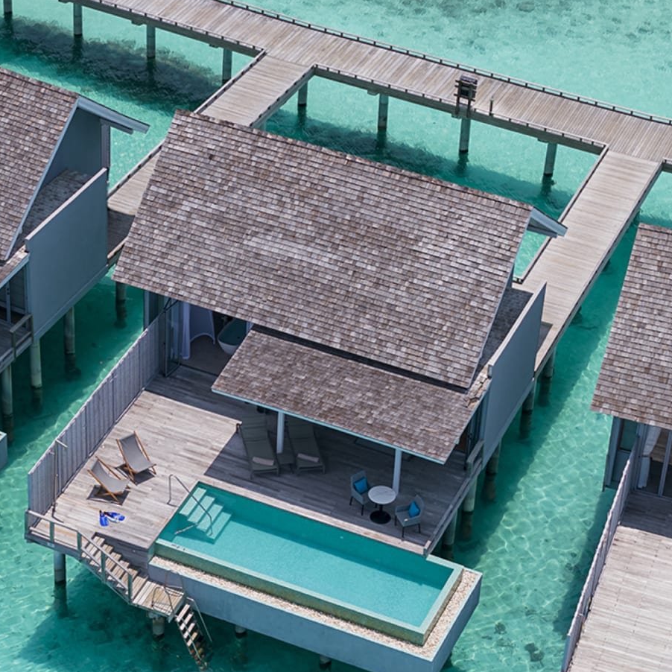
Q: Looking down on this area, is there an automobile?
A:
No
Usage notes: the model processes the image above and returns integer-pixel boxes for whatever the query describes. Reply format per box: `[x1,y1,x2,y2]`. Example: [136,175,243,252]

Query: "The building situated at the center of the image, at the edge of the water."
[21,107,573,635]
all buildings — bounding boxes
[0,66,150,464]
[21,107,573,635]
[567,221,672,672]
